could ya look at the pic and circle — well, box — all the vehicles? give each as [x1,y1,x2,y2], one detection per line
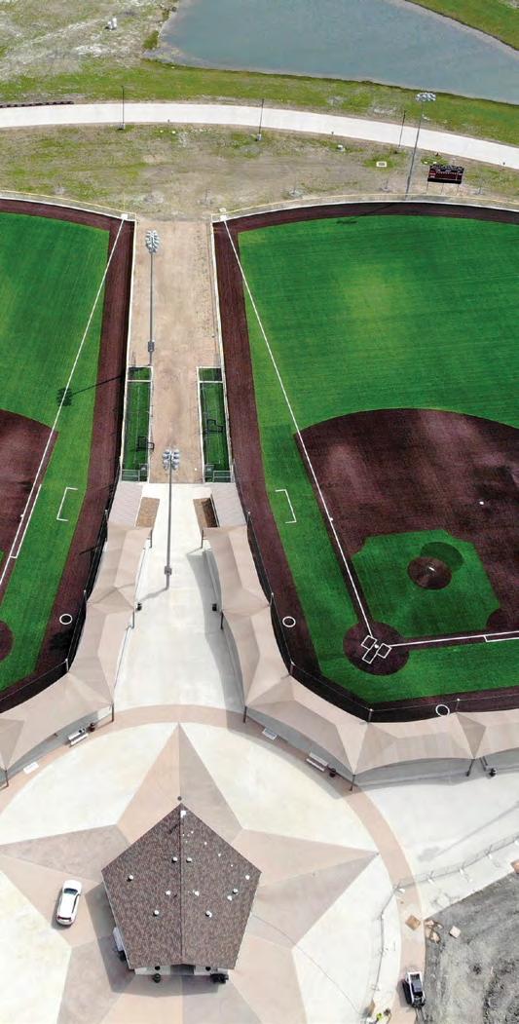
[400,966,427,1022]
[53,874,83,926]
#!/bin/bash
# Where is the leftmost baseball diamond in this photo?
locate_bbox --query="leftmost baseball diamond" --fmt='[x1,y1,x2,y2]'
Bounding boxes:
[0,199,133,699]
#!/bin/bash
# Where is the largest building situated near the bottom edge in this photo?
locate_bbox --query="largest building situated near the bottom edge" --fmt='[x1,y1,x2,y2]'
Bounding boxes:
[102,802,260,983]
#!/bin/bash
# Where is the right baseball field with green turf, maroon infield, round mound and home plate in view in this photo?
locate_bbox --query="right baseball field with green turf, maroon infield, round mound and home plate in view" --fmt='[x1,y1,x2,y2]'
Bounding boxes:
[214,202,519,720]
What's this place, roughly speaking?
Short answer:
sports ground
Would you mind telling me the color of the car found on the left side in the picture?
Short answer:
white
